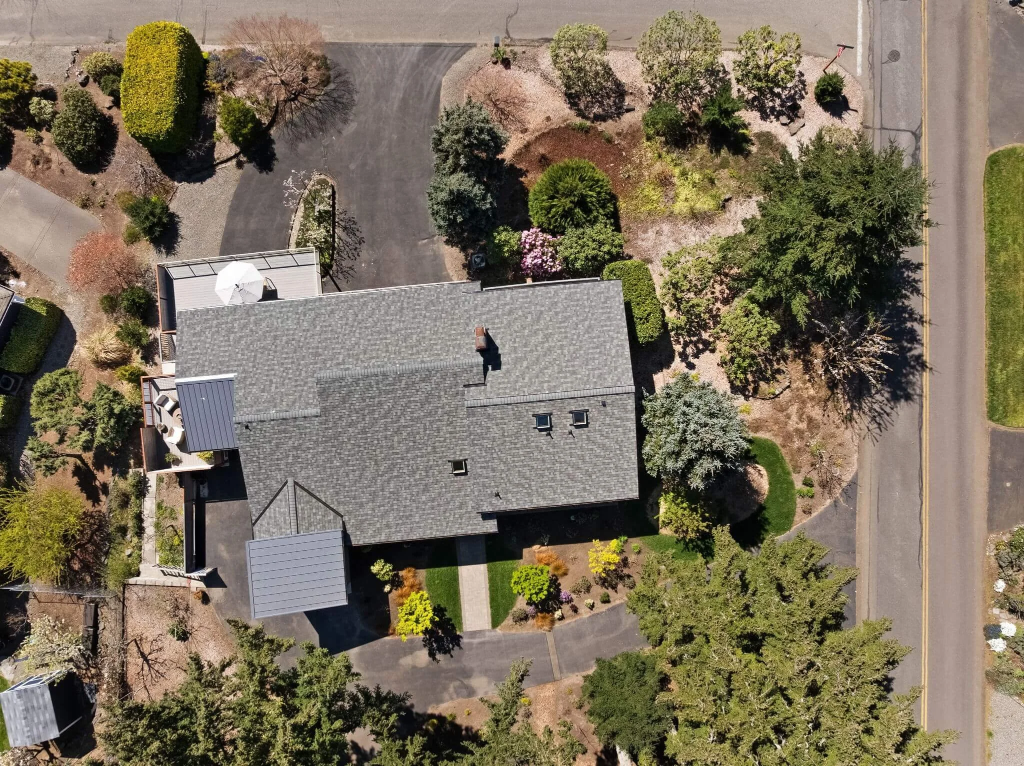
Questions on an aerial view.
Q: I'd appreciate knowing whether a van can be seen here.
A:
No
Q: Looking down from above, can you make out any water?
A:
No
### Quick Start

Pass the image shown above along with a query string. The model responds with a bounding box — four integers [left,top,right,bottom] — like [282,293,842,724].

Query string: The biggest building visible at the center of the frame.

[171,279,638,547]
